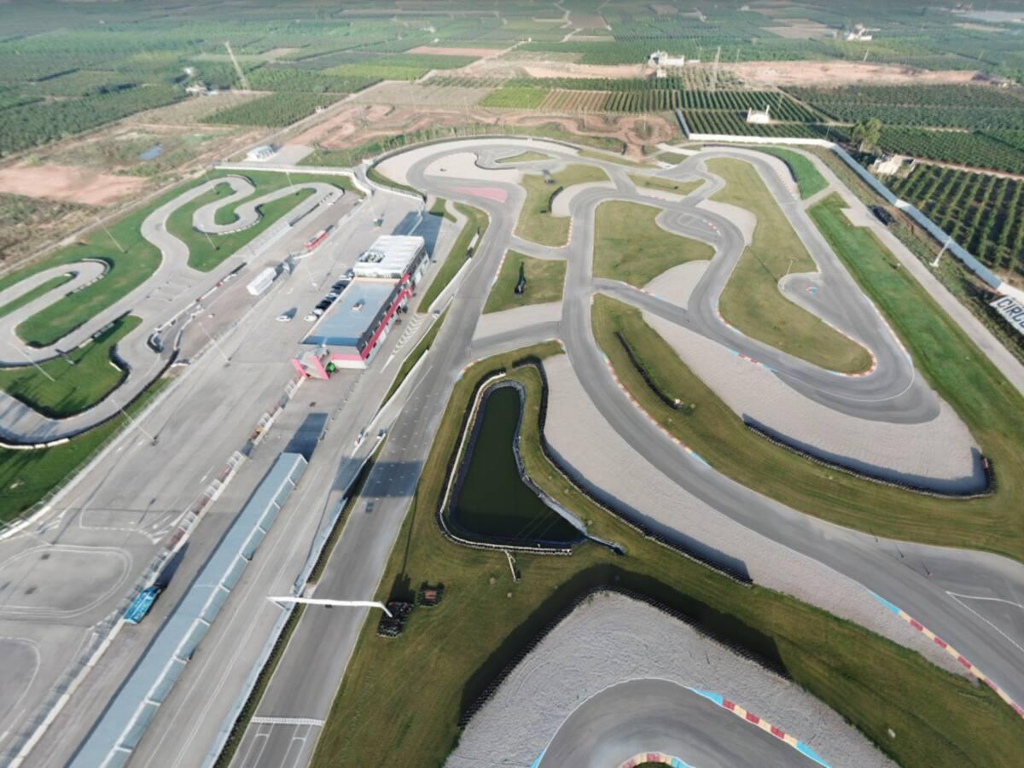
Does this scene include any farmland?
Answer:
Yes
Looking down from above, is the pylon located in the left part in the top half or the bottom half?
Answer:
top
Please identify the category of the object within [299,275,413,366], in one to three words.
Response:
building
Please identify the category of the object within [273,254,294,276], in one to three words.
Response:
truck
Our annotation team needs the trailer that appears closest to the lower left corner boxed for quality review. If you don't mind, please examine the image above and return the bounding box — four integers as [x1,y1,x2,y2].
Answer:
[104,578,163,629]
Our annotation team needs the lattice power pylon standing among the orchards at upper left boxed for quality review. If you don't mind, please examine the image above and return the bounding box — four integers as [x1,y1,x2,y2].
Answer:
[227,47,249,88]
